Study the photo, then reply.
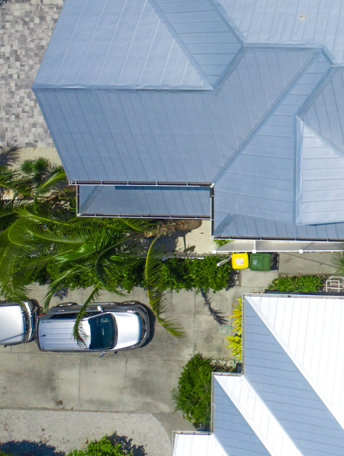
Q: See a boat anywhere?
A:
No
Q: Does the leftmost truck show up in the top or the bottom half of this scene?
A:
bottom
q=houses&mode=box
[32,0,344,246]
[169,288,344,456]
